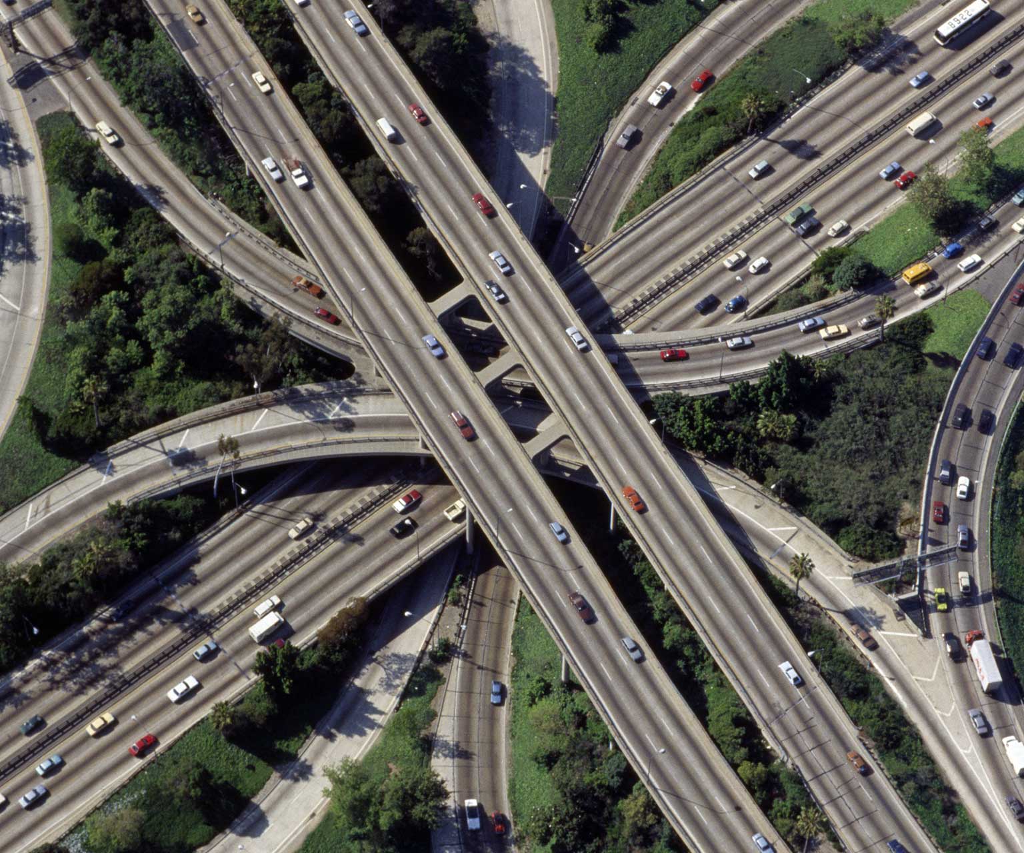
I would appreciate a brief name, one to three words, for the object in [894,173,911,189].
car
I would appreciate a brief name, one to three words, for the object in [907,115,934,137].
vehicle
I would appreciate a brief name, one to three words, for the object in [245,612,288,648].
truck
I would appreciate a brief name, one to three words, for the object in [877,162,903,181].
car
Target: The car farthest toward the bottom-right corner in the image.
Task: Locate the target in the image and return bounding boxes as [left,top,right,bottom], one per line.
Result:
[1003,795,1023,821]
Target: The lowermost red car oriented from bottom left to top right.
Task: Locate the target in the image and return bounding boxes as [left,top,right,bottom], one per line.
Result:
[127,734,157,757]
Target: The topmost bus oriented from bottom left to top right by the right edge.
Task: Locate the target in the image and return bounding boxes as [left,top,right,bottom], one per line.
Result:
[934,0,990,47]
